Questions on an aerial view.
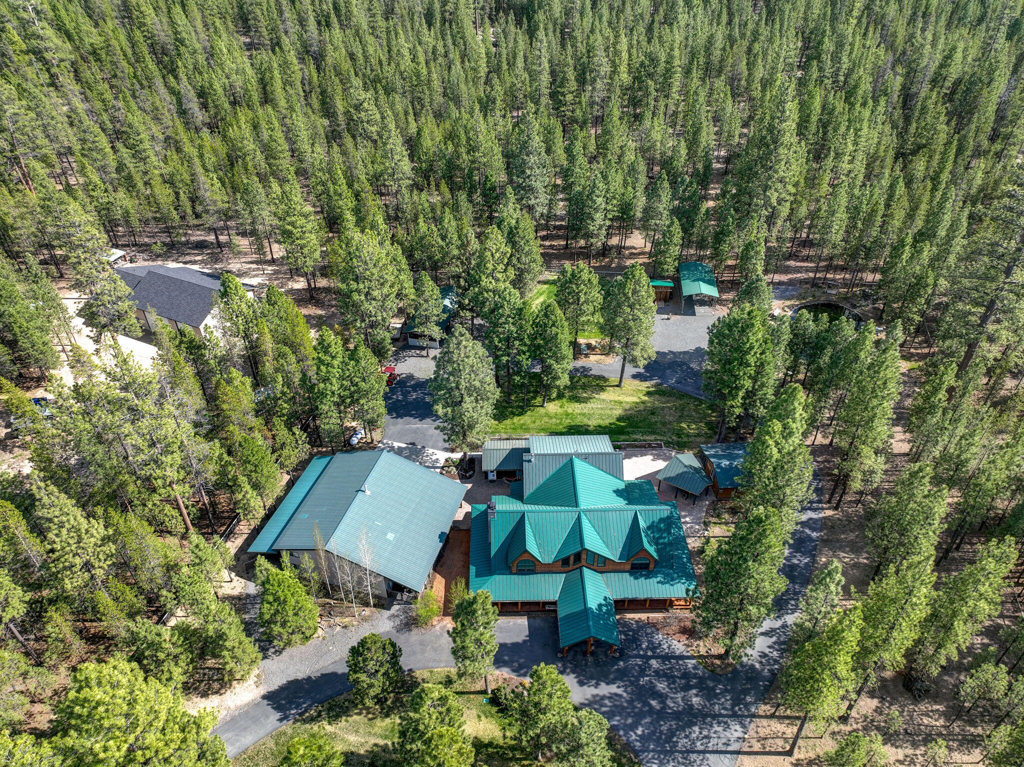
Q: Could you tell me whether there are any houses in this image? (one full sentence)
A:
Yes, this view includes a house.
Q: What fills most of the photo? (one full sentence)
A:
The largest share of the image is taken up by trees.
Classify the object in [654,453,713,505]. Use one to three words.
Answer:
gazebo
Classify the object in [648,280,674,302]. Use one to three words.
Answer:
shed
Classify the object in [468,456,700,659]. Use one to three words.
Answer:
house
